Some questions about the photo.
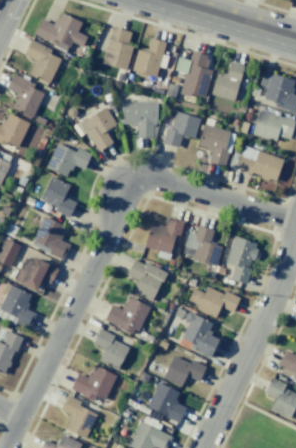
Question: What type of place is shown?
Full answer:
It's a residential area.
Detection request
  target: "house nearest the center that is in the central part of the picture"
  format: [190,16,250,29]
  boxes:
[147,218,184,253]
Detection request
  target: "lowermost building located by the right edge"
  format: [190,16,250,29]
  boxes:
[265,378,296,422]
